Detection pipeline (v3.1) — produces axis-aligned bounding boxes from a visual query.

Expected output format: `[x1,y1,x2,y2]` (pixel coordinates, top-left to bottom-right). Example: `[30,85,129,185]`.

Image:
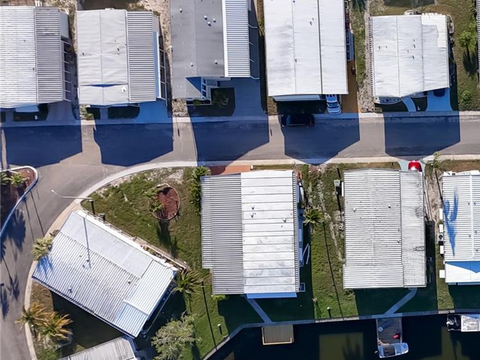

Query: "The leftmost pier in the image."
[261,323,298,346]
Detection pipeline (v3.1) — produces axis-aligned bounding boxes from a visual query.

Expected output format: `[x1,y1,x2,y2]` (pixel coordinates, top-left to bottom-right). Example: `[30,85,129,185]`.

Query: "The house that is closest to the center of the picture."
[200,170,309,298]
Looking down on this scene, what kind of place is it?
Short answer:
residential area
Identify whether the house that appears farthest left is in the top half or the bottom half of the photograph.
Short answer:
top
